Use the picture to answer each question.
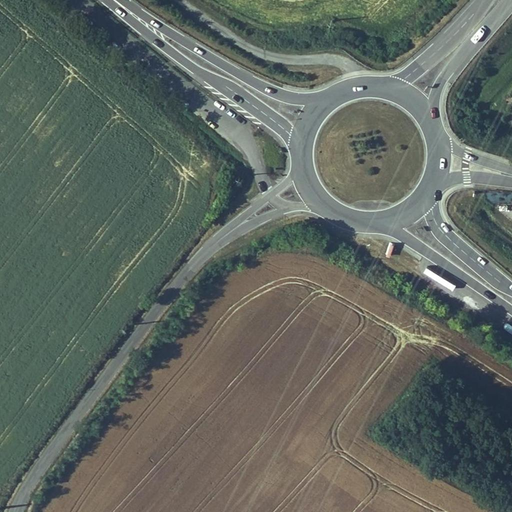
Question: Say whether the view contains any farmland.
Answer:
Yes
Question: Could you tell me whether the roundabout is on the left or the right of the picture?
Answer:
right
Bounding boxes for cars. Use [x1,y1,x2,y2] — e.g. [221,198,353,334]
[235,114,248,126]
[264,87,276,94]
[226,108,238,118]
[484,289,496,299]
[476,256,488,266]
[435,190,441,202]
[213,100,226,110]
[208,120,219,130]
[193,46,206,56]
[431,107,437,119]
[440,221,450,233]
[114,6,127,18]
[152,38,164,48]
[232,94,244,104]
[464,153,476,160]
[351,86,363,91]
[150,19,162,29]
[440,157,446,170]
[260,180,268,193]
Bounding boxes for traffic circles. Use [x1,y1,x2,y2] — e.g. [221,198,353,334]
[288,74,453,234]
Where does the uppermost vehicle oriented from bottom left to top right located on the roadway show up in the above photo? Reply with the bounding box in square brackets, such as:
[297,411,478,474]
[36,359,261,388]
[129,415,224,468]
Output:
[470,26,486,44]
